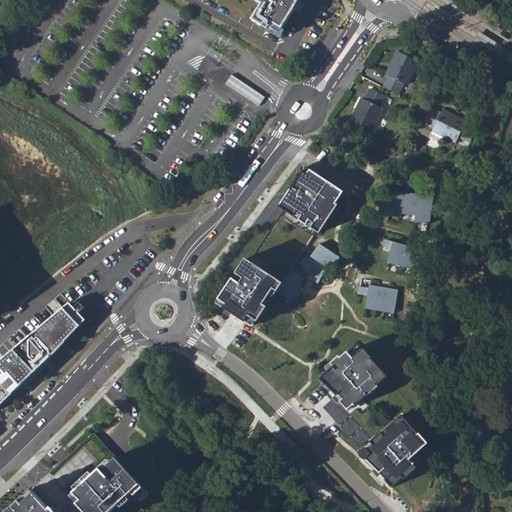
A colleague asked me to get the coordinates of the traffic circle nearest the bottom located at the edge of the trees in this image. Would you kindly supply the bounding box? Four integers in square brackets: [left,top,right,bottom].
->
[132,281,194,343]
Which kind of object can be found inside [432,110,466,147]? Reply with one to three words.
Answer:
house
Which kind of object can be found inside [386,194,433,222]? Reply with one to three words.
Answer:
house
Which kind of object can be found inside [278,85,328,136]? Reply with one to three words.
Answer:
roundabout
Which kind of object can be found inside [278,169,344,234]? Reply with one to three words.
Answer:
building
